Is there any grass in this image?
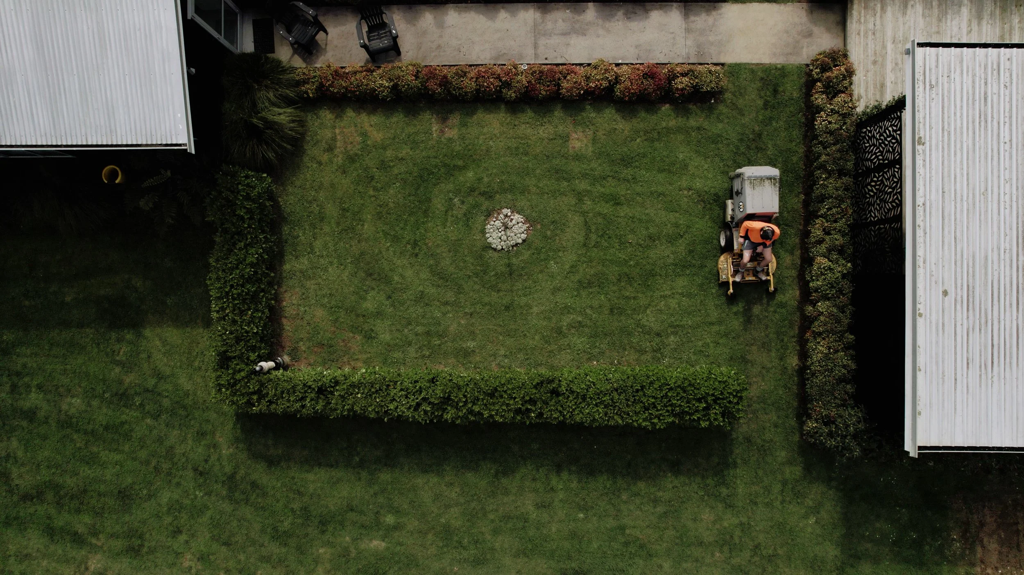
Yes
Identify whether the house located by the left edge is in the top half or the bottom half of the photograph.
top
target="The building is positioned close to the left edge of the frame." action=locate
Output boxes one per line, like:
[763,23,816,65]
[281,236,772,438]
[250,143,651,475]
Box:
[0,0,249,168]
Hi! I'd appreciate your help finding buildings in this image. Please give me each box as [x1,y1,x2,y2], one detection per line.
[857,39,1024,458]
[0,0,249,168]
